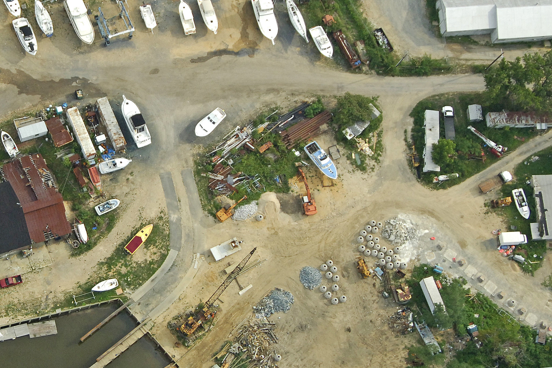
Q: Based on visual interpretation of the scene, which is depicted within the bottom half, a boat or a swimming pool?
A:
boat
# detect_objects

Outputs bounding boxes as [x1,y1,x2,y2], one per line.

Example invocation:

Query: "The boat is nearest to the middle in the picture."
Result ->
[304,141,337,179]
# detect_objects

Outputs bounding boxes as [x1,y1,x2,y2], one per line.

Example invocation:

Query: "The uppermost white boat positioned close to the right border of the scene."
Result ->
[511,188,529,218]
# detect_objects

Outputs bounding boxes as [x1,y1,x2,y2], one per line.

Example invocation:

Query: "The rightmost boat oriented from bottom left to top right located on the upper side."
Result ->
[195,106,228,136]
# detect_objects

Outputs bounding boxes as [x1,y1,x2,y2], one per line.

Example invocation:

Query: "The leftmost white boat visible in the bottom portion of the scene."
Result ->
[75,223,89,243]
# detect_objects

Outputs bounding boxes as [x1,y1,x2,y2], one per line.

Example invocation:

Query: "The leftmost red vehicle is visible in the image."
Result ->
[0,273,24,288]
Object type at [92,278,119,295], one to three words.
boat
